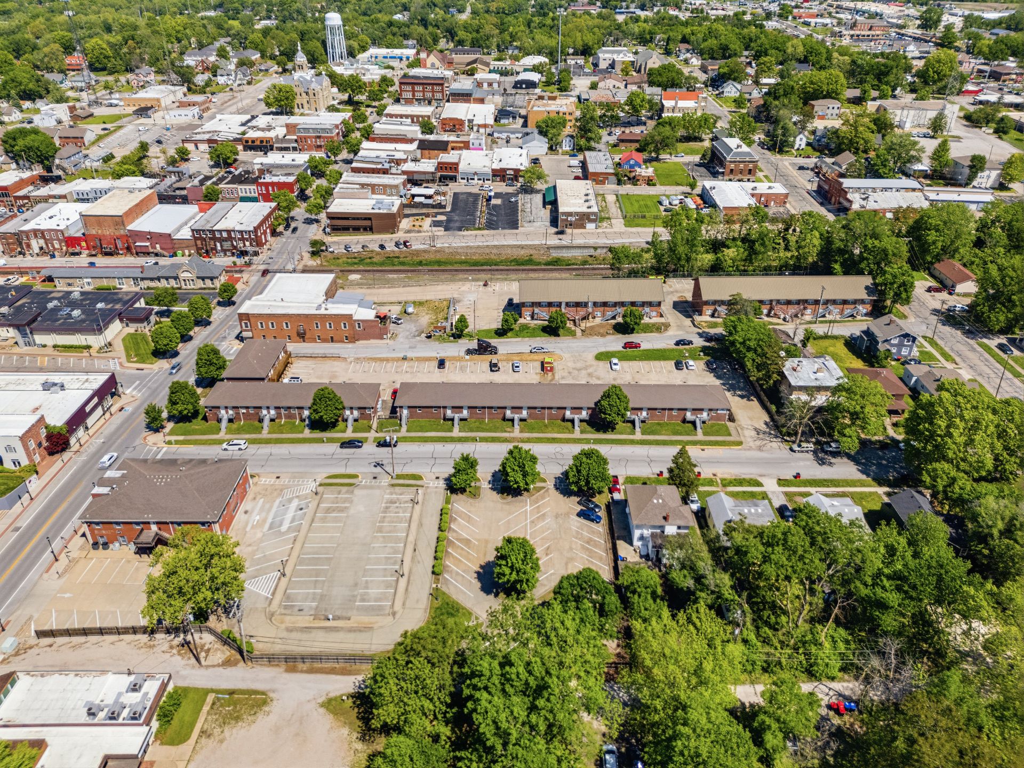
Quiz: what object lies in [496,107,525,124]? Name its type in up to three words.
house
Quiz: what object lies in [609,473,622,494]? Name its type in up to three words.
vehicle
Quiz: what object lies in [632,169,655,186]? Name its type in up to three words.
building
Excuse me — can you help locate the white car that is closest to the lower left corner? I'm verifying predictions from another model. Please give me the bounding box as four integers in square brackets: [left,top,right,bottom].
[98,452,116,468]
